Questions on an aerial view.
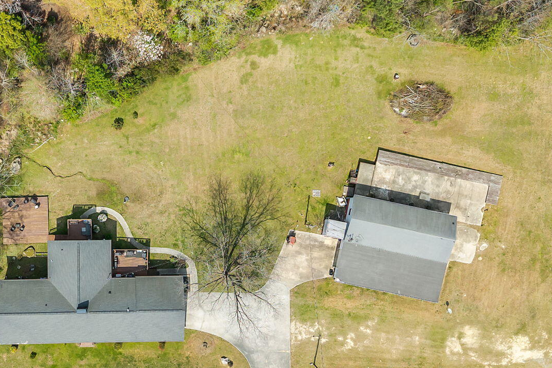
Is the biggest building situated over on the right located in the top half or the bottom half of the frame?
bottom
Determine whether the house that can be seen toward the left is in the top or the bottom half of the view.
bottom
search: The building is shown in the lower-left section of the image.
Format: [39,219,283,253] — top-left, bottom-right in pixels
[0,240,187,346]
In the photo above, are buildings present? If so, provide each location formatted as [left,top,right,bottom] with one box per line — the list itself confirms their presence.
[0,240,187,346]
[332,194,457,303]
